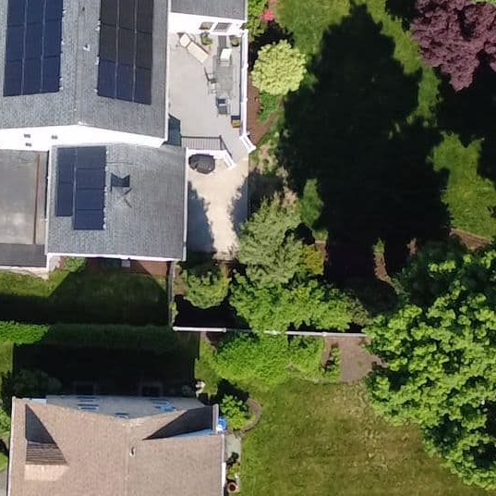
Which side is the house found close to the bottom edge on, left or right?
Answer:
left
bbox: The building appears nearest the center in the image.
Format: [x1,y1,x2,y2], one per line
[44,138,188,261]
